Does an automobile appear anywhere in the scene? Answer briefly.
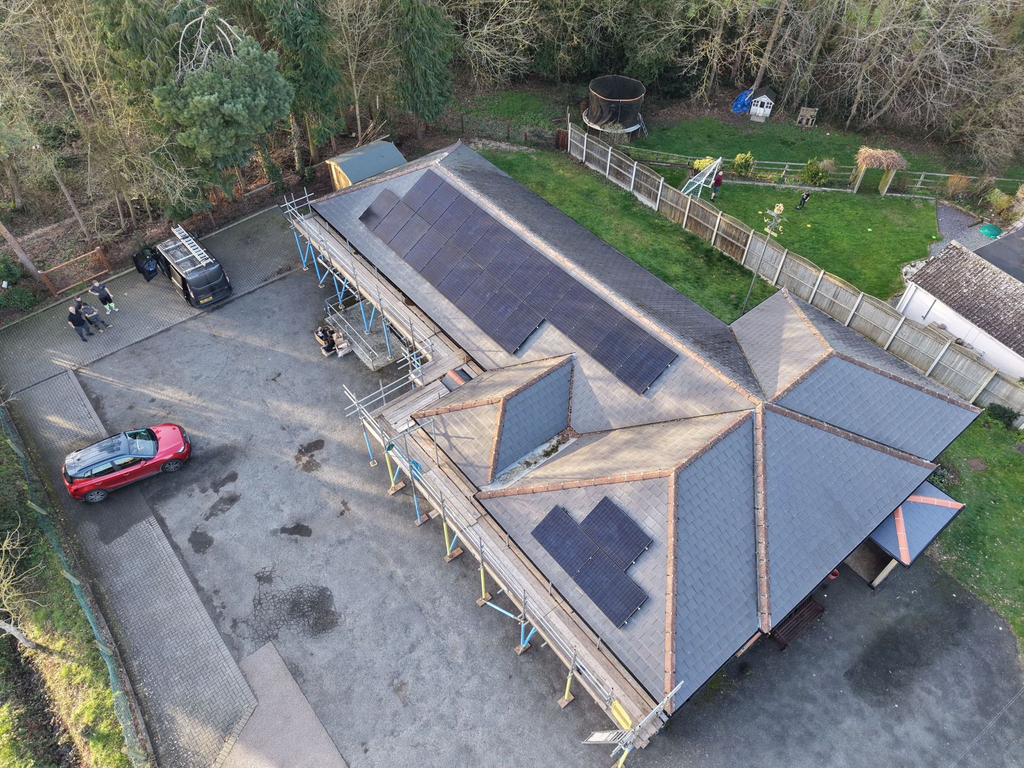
Yes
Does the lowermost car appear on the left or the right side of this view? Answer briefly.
left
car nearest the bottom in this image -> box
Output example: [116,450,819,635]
[53,417,192,502]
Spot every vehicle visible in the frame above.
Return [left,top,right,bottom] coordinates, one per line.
[125,222,235,302]
[53,417,192,502]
